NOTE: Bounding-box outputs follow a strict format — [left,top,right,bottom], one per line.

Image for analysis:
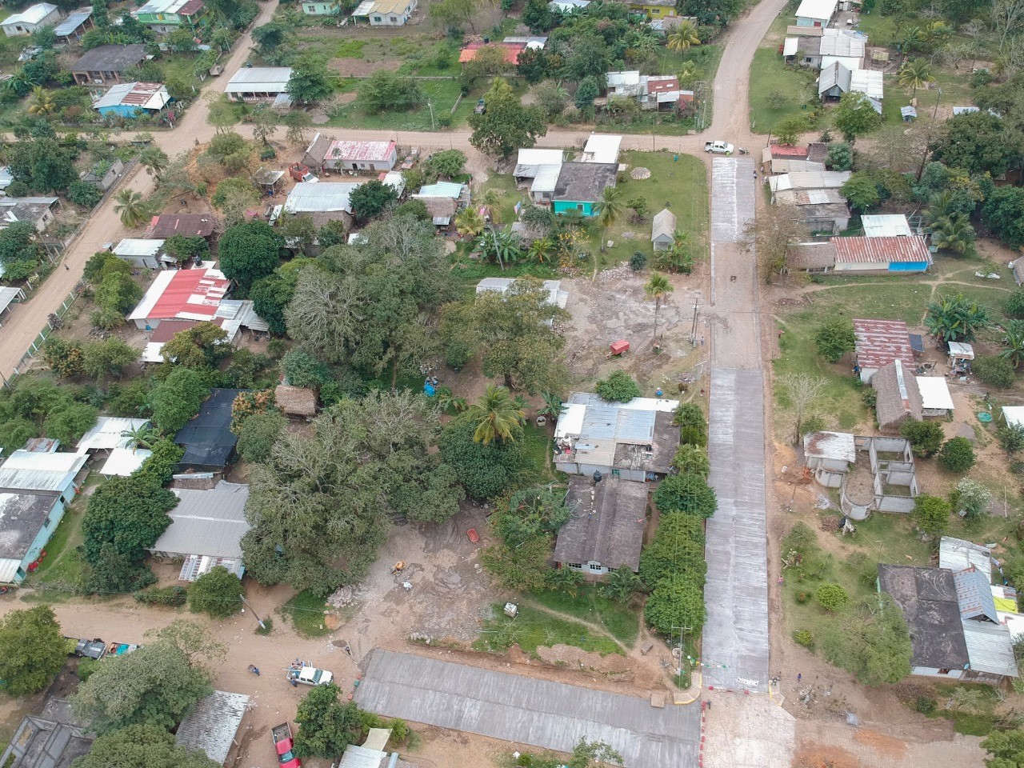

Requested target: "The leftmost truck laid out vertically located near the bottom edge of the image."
[269,716,294,768]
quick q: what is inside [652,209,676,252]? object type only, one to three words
shed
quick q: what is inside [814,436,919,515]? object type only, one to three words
house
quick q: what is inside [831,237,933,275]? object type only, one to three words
house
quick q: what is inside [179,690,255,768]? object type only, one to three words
shed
